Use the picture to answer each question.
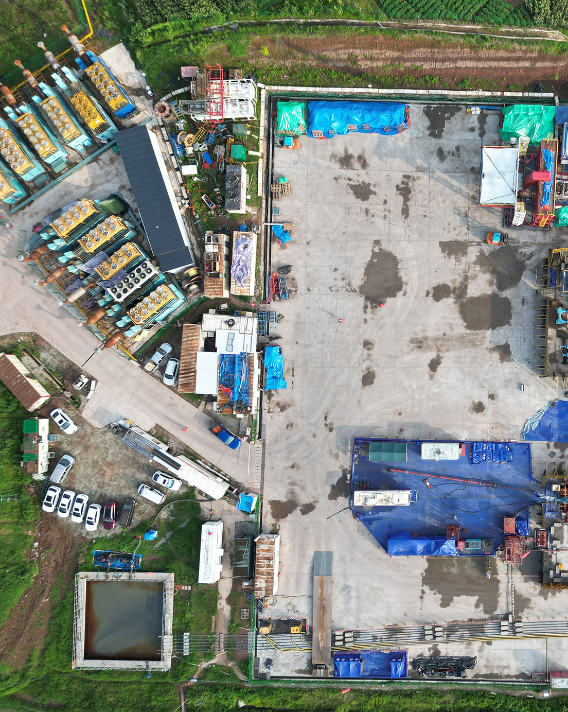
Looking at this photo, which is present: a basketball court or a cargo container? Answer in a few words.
cargo container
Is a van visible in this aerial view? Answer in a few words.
Yes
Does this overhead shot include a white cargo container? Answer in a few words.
Yes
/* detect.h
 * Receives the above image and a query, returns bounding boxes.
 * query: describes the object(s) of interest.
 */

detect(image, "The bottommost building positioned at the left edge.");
[22,418,50,474]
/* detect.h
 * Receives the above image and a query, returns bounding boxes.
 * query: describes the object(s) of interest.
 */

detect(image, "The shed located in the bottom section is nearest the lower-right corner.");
[549,667,568,688]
